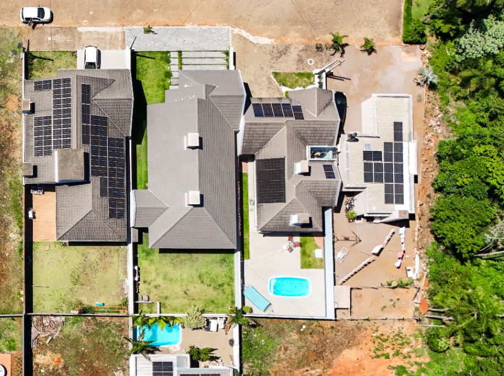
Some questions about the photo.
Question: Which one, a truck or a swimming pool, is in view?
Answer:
swimming pool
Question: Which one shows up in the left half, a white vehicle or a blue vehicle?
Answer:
white vehicle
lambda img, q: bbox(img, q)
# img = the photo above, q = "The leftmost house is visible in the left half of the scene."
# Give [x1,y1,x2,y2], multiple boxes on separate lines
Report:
[23,69,134,243]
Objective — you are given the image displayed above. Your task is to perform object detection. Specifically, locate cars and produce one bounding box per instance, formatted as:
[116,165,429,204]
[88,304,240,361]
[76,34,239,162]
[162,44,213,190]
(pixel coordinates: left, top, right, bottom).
[334,94,349,135]
[82,40,100,69]
[20,6,51,30]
